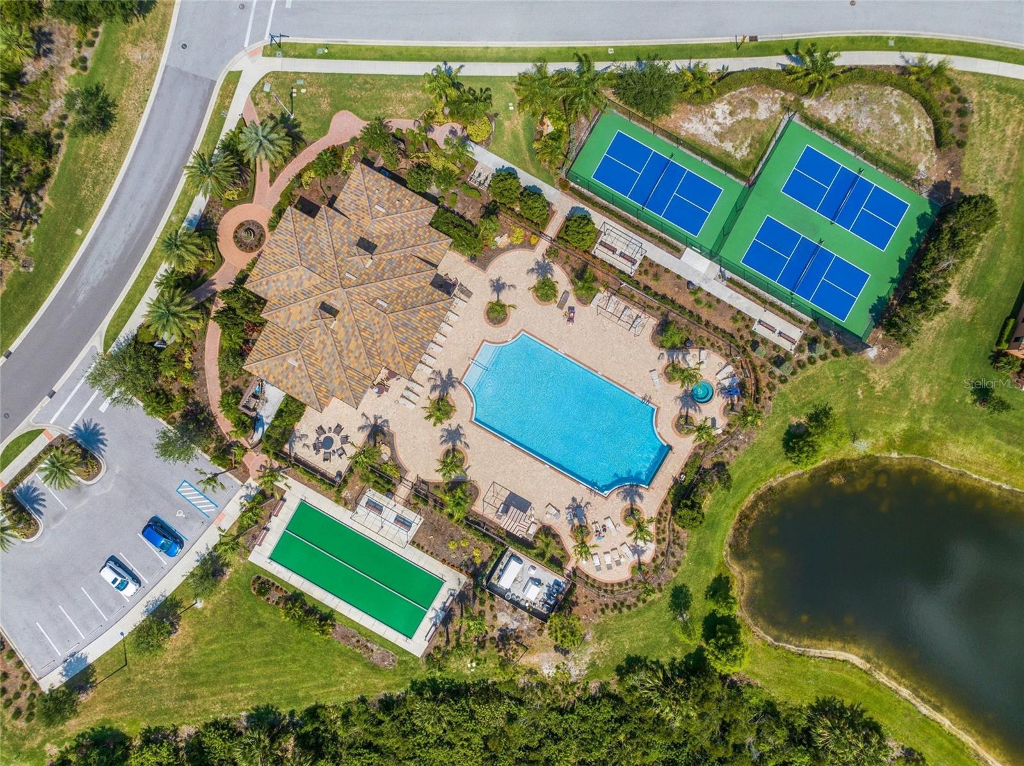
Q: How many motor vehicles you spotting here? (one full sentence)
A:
The photo contains 2 motor vehicles.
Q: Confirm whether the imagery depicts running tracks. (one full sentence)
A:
No, the photo shows no running track.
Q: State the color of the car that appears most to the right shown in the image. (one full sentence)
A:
In this view, the car that appears most to the right is blue.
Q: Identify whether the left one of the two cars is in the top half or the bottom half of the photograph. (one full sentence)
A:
The bottom half of the photo is where the left one of the two cars is.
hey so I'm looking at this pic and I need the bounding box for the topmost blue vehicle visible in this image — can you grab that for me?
[142,518,183,556]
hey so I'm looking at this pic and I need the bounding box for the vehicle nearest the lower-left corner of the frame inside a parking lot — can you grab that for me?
[98,558,140,596]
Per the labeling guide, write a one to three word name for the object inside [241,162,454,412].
building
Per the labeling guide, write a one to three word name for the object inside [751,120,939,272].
sports court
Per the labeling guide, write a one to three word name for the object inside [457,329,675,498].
swimming pool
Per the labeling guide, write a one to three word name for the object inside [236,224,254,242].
fountain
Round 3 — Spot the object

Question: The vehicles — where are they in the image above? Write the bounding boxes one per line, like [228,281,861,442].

[142,518,183,556]
[98,558,140,596]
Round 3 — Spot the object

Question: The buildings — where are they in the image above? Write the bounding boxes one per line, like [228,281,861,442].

[1008,320,1024,368]
[241,162,454,412]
